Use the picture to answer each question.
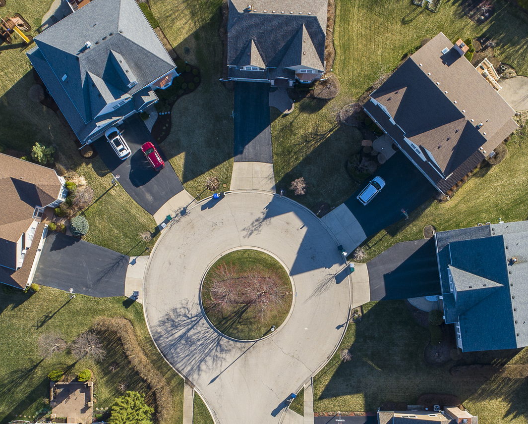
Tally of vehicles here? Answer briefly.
3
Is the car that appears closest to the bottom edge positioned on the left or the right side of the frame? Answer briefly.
right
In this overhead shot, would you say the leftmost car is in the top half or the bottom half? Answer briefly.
top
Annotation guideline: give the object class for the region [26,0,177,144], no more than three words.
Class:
house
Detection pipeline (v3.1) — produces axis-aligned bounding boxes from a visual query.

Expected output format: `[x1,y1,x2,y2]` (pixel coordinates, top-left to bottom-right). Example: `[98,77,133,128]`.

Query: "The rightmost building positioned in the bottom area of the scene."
[434,220,528,352]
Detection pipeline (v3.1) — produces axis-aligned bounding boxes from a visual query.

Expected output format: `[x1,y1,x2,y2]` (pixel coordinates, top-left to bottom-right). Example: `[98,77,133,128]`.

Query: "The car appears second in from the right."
[141,139,164,173]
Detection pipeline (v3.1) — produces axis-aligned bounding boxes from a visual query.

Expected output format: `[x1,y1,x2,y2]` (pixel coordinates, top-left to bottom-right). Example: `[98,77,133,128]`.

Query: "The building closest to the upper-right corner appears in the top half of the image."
[362,31,519,196]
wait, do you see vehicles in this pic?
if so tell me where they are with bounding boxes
[104,125,131,162]
[357,173,385,208]
[141,139,164,173]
